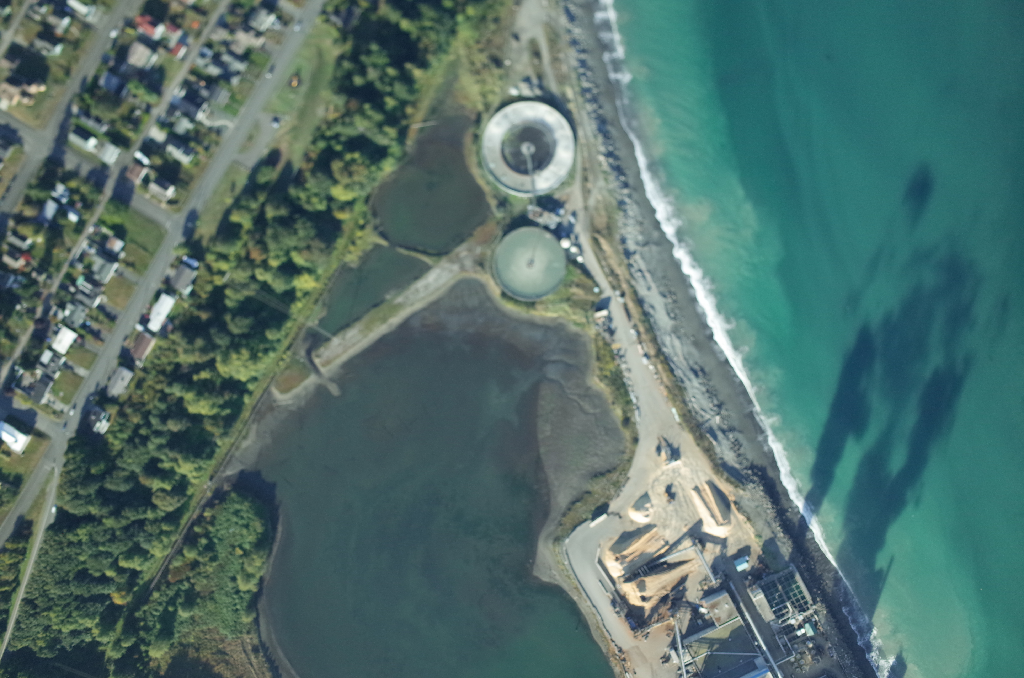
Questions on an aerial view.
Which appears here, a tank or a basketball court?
tank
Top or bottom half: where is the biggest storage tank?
top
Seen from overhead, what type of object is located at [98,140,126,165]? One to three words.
building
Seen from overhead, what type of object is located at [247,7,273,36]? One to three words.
house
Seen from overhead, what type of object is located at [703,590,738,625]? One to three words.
building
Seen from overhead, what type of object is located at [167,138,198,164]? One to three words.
house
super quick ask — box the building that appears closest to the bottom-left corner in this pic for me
[0,422,35,453]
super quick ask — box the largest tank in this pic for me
[482,102,576,206]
